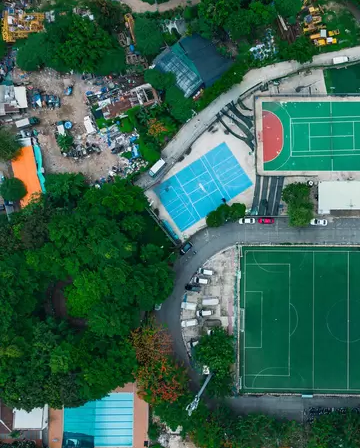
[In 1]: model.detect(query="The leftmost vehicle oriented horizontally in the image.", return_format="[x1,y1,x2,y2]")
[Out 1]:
[14,114,41,127]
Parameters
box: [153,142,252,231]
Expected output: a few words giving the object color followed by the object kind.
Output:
blue sports court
